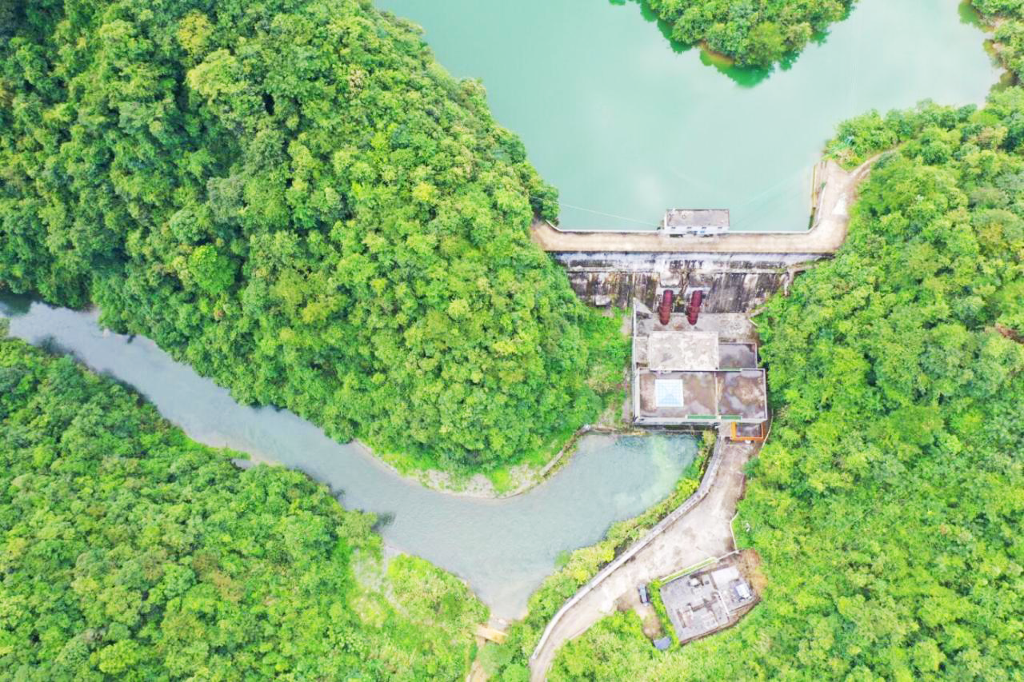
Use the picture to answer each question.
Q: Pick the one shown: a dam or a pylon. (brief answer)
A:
dam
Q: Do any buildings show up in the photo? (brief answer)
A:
Yes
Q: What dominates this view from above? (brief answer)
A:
trees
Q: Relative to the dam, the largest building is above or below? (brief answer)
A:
below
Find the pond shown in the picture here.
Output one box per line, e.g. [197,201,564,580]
[375,0,1006,232]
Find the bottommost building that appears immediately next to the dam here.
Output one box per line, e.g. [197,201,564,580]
[631,369,769,434]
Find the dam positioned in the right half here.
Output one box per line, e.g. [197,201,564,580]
[530,146,896,313]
